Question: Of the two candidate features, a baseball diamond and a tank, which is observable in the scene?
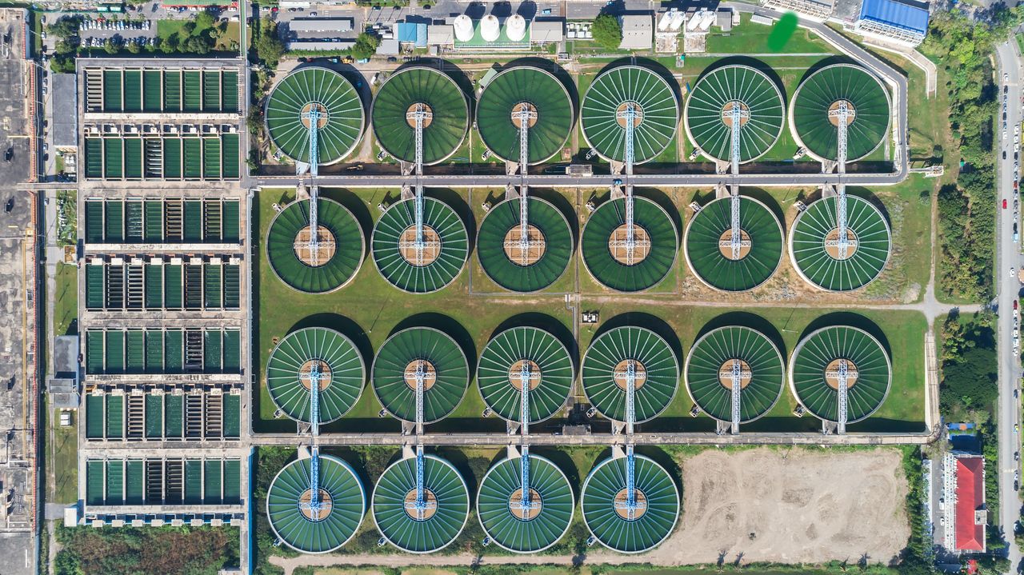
tank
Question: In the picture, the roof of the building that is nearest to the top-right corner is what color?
blue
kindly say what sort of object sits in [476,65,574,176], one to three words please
storage tank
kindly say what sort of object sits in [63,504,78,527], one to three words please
building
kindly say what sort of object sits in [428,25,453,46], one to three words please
shed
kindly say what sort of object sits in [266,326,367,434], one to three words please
storage tank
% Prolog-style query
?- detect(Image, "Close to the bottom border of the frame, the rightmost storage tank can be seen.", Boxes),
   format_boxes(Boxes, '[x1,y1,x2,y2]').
[580,445,680,553]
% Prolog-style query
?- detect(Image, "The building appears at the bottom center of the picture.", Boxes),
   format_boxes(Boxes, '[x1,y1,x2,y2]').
[562,423,591,435]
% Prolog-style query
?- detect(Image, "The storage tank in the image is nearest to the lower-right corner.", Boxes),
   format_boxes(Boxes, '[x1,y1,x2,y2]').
[788,325,891,433]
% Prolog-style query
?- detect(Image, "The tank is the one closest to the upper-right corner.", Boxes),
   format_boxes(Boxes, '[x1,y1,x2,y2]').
[788,64,891,174]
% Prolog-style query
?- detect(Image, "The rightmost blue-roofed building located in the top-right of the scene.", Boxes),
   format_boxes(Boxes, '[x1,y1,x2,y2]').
[853,0,934,49]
